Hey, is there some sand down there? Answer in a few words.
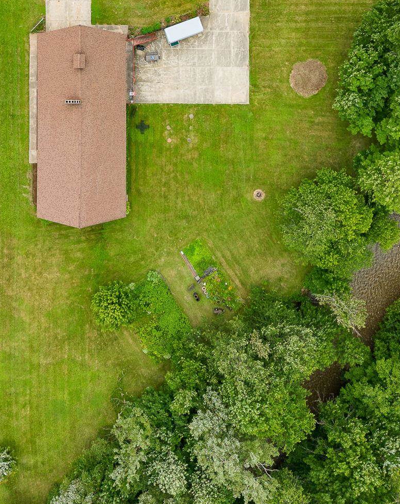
No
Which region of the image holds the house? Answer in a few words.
top left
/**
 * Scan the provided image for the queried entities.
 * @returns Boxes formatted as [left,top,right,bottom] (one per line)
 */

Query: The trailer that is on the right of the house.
[164,16,206,44]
